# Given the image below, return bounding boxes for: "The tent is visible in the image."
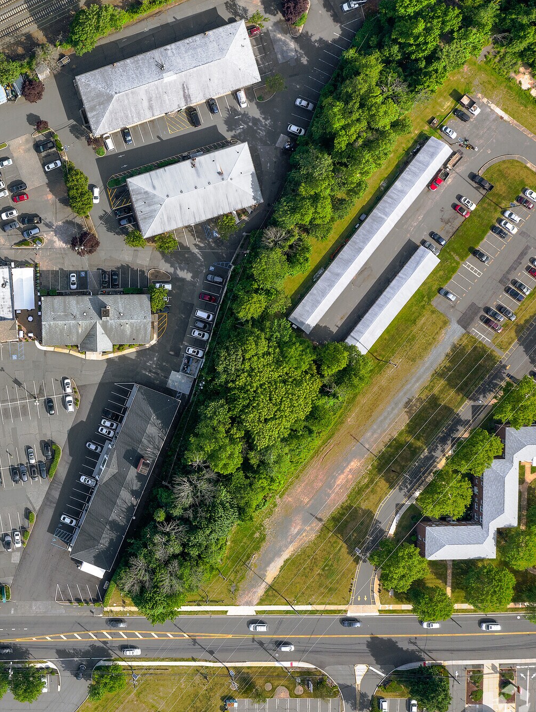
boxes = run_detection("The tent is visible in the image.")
[11,267,35,309]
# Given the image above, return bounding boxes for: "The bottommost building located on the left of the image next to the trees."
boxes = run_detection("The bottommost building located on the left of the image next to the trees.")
[70,384,181,577]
